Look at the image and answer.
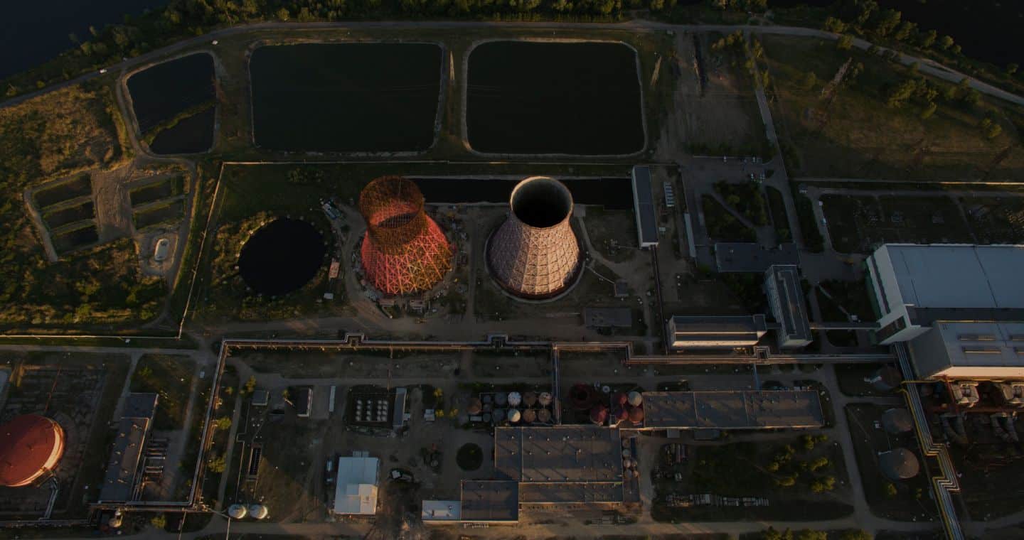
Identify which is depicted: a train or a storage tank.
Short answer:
storage tank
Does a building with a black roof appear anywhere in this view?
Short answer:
Yes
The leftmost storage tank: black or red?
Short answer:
red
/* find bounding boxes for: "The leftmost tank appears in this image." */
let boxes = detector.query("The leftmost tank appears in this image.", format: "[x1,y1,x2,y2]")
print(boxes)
[0,417,71,491]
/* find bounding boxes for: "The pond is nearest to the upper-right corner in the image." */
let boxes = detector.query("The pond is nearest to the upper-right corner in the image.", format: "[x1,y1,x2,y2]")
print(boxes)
[468,43,644,154]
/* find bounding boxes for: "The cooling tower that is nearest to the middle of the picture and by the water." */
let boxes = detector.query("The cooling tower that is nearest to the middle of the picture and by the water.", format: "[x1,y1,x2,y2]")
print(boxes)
[484,175,589,301]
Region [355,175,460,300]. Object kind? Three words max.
cooling tower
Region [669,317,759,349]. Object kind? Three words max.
building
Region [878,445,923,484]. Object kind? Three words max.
storage tank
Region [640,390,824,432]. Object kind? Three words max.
building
